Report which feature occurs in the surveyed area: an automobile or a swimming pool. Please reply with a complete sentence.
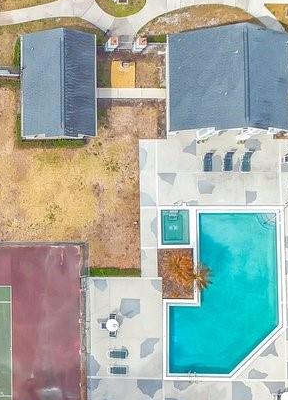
The one in the frame is a swimming pool.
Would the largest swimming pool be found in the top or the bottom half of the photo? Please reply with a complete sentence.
The largest swimming pool is in the bottom half of the image.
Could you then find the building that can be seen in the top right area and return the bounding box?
[165,23,288,132]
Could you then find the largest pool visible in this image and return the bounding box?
[163,204,287,384]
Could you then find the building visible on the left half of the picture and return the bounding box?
[20,28,98,138]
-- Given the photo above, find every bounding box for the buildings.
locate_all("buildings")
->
[20,28,98,138]
[165,23,288,132]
